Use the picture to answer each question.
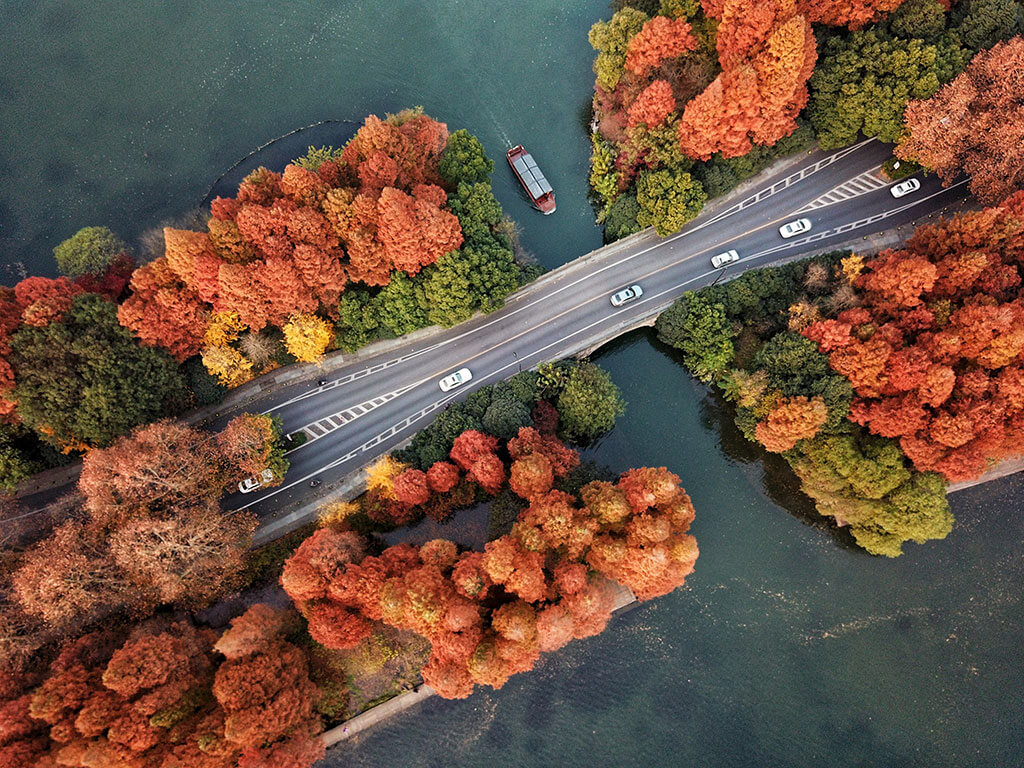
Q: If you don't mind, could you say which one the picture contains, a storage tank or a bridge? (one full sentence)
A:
I can see a bridge in this picture.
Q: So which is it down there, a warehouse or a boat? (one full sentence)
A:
Visible in the photo is a boat.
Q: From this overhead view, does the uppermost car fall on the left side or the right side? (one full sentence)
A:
The uppermost car is on the right side of the image.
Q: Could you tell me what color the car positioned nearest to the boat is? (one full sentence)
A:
From above, the car positioned nearest to the boat appears white.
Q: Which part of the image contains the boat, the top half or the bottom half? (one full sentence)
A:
You can find the boat in the top half.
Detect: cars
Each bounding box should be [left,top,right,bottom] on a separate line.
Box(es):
[438,368,472,390]
[610,283,644,305]
[236,468,273,493]
[711,246,741,268]
[779,216,814,238]
[891,175,924,197]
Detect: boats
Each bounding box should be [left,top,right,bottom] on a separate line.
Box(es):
[505,143,553,215]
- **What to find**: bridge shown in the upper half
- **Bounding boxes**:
[510,224,668,368]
